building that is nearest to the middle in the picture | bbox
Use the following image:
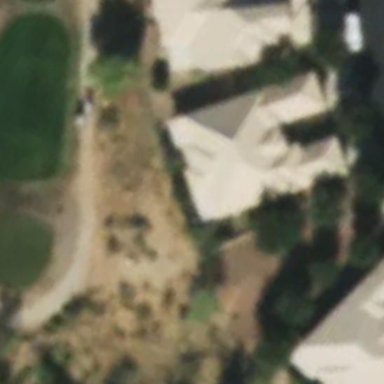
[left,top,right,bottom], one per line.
[167,74,349,224]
